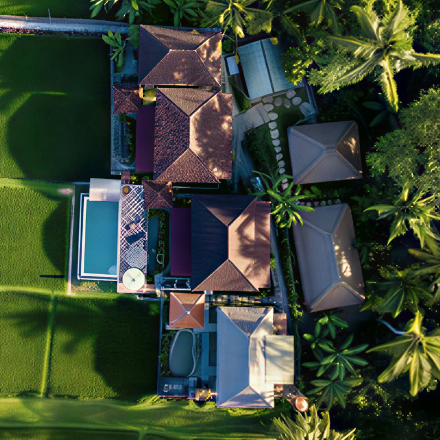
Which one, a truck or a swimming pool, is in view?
swimming pool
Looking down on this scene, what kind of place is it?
residential area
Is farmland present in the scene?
Yes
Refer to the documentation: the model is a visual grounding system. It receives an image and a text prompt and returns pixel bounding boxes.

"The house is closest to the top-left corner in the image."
[139,25,223,87]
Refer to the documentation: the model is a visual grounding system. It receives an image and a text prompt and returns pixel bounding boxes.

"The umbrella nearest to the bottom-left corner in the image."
[123,267,145,290]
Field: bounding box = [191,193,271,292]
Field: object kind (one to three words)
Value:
house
